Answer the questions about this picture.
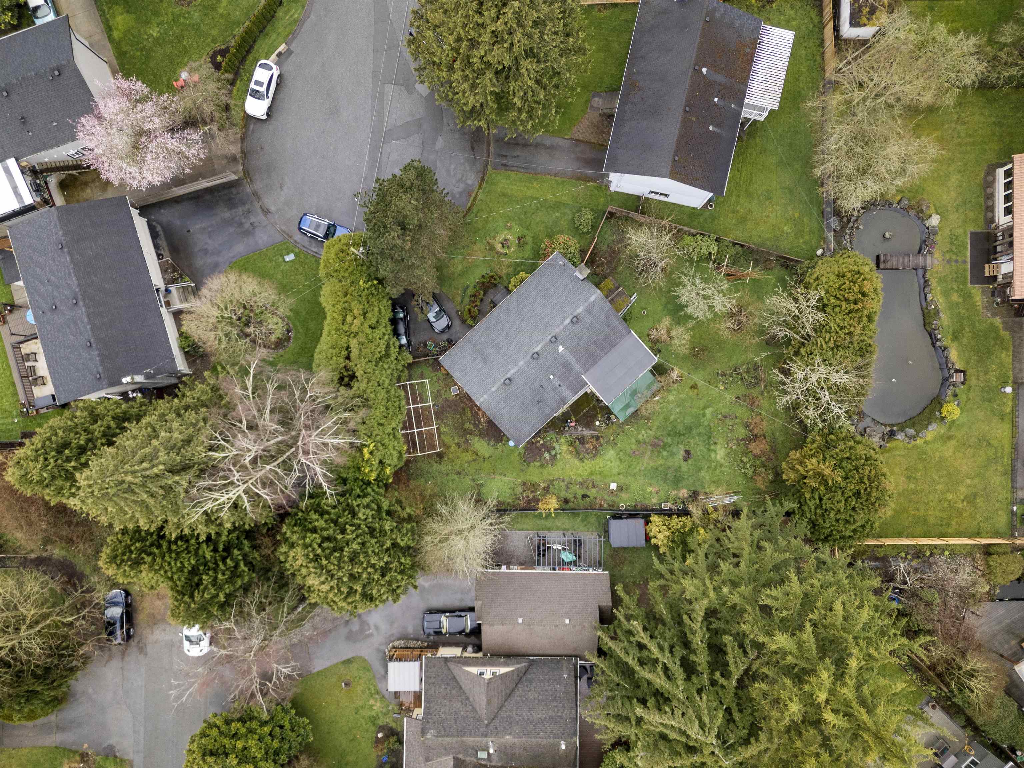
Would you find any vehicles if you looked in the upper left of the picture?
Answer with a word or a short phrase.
Yes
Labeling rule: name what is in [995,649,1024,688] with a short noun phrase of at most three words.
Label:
shed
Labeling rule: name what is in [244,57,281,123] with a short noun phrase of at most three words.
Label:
car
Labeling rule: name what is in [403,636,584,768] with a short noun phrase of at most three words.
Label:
house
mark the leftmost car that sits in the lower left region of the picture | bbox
[102,585,138,645]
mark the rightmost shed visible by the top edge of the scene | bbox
[836,0,888,44]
